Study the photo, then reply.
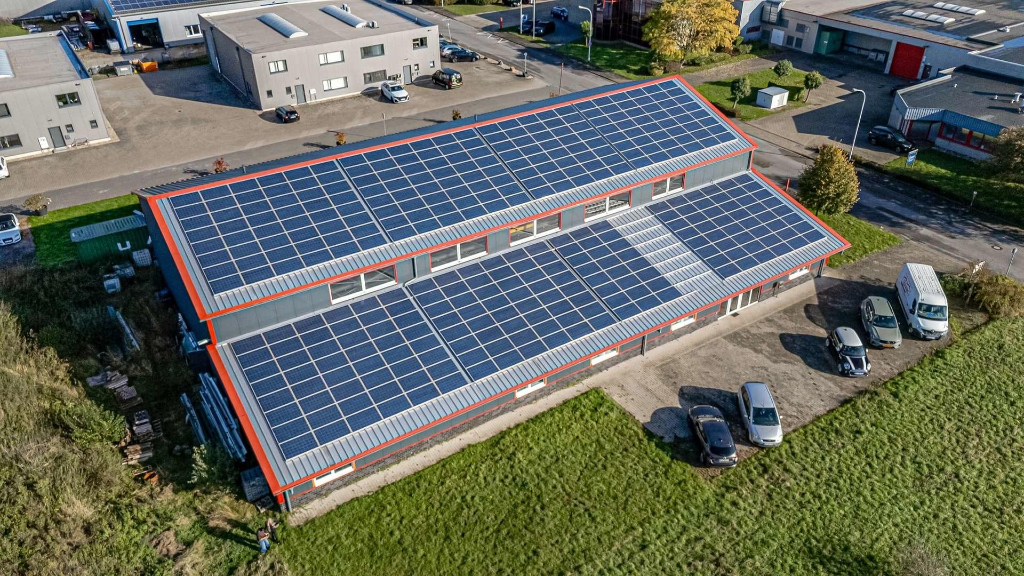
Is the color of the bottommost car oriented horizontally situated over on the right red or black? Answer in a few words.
black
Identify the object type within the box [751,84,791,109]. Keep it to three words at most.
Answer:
shed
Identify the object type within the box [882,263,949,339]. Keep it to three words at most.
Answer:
van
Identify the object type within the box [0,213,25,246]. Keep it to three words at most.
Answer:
car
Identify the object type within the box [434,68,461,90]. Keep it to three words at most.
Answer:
vehicle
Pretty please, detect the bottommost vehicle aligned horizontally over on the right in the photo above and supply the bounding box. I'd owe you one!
[861,126,914,156]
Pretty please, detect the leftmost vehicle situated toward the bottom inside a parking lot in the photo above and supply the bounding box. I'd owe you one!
[685,401,733,467]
